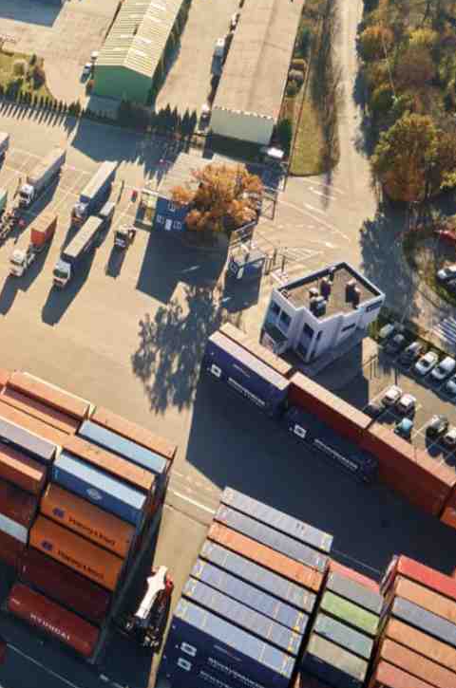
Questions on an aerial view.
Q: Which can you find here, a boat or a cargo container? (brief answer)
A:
cargo container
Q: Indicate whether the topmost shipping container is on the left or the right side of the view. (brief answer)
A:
left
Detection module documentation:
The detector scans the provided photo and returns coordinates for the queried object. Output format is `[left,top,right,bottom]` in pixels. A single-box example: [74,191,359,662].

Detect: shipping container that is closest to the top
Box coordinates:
[29,210,59,245]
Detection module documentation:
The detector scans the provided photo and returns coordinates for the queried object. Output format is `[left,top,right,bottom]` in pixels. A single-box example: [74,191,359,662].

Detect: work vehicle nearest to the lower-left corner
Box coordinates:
[106,563,190,649]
